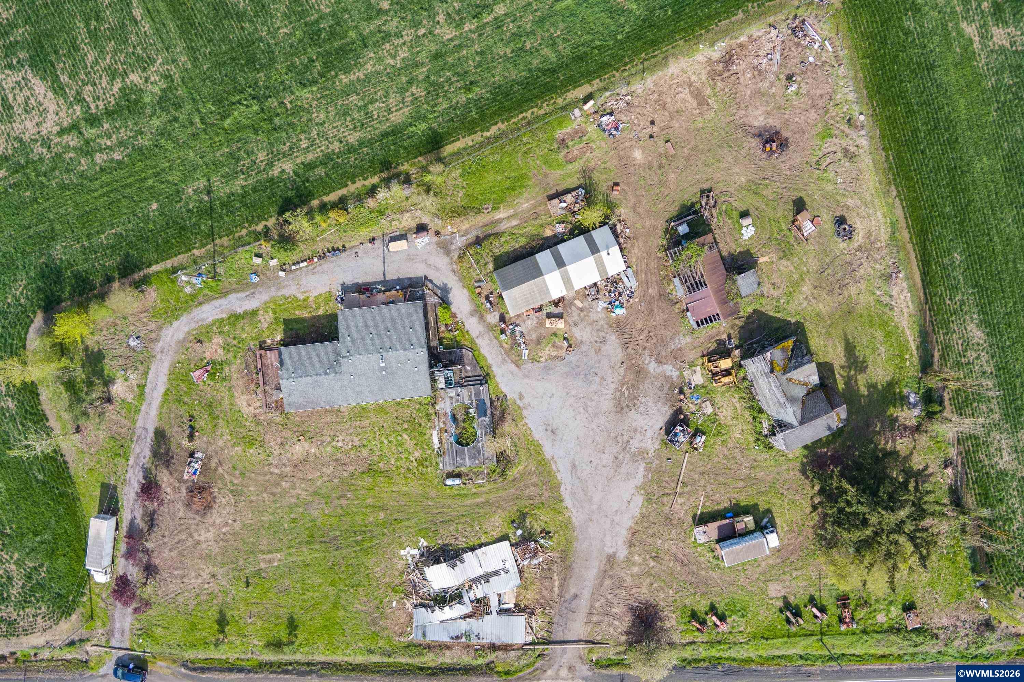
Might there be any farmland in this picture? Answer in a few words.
Yes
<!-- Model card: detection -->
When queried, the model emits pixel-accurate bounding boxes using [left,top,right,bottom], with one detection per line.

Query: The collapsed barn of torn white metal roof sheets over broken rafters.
[413,541,526,644]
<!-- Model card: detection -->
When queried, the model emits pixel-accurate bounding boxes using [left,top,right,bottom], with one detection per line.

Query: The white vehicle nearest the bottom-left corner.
[86,515,120,583]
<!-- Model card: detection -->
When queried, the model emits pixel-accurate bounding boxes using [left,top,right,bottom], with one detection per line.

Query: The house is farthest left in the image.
[278,300,432,413]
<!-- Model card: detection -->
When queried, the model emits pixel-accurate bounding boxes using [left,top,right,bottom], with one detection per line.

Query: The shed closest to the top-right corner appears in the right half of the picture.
[732,269,760,296]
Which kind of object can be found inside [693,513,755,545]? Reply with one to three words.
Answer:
truck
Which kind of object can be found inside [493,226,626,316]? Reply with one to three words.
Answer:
building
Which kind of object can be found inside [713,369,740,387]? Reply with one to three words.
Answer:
work vehicle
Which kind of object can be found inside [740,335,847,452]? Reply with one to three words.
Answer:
house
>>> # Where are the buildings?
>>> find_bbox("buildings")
[493,226,626,316]
[278,300,432,413]
[732,269,760,296]
[413,541,526,644]
[740,335,847,452]
[668,234,739,328]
